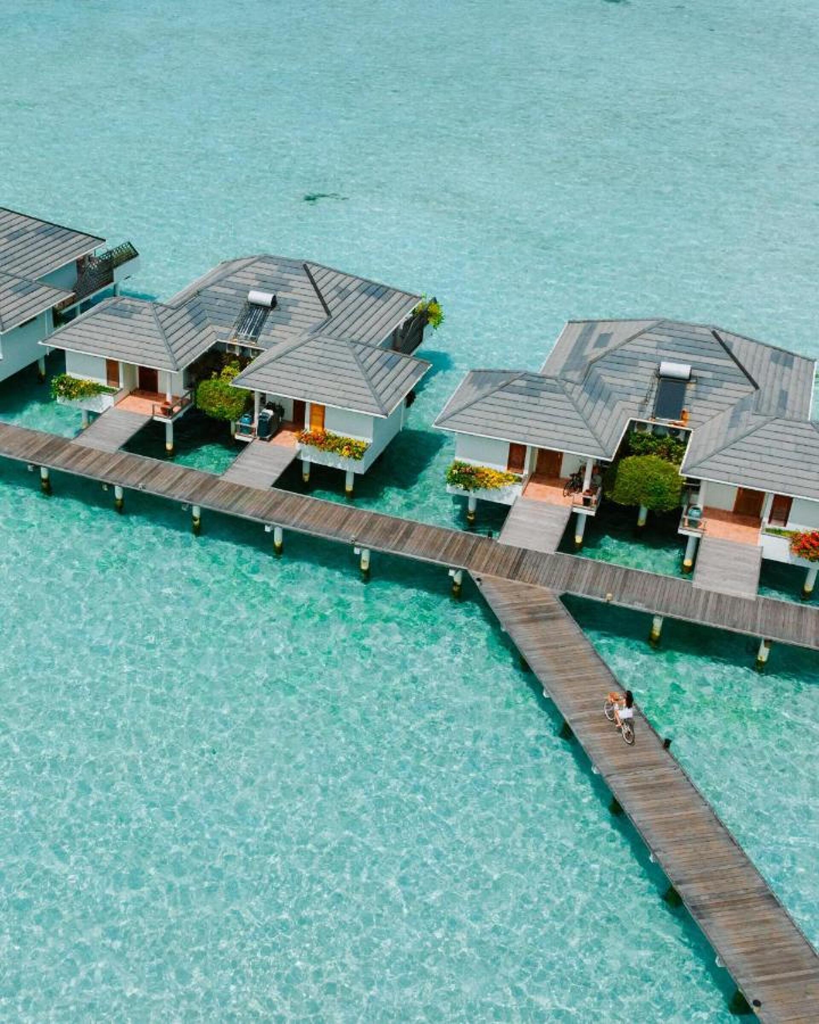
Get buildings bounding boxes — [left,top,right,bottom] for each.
[430,317,819,603]
[38,253,443,505]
